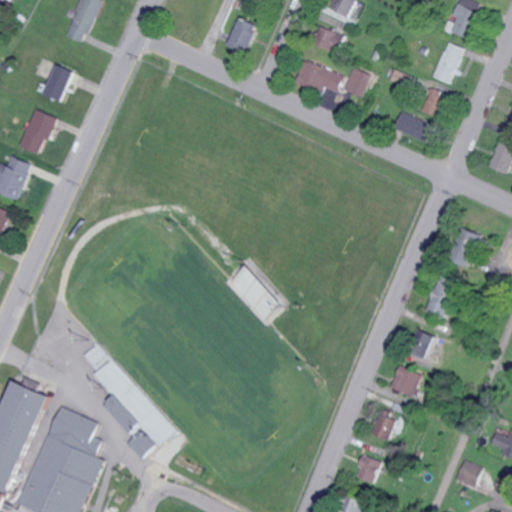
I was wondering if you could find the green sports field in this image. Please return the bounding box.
[62,210,326,486]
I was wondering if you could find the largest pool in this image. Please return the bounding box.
[393,416,406,436]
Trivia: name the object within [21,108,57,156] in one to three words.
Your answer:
house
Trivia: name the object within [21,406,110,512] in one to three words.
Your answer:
building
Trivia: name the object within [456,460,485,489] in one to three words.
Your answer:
building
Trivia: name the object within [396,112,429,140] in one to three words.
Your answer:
house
